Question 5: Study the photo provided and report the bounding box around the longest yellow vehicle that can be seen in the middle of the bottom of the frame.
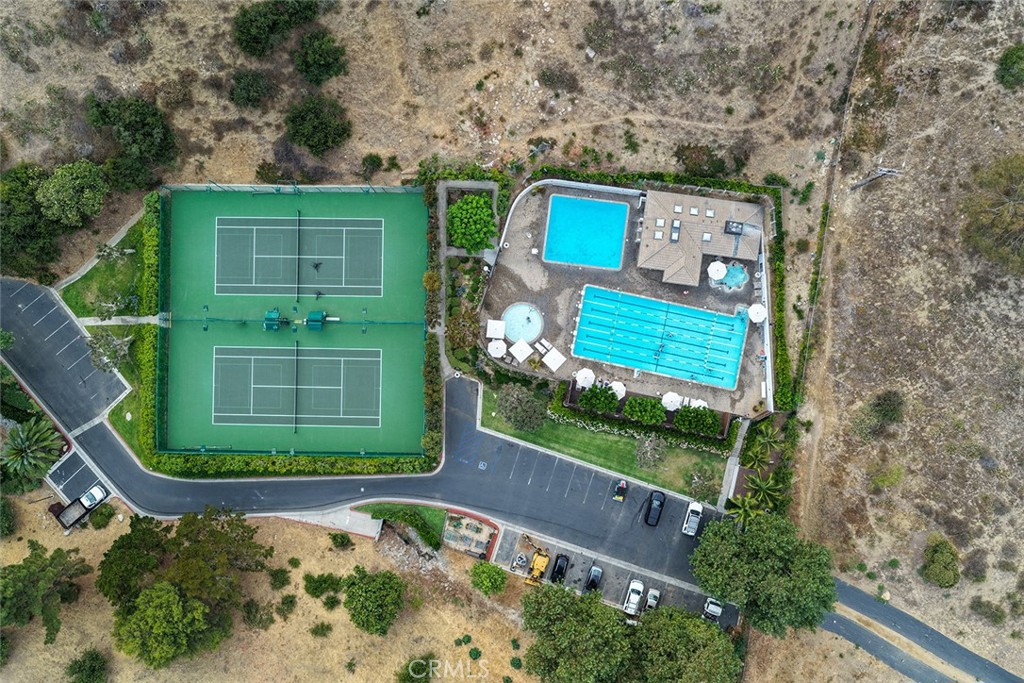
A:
[522,530,552,585]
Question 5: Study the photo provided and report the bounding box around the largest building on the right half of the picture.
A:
[637,190,764,287]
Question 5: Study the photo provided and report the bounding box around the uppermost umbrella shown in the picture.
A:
[707,261,726,280]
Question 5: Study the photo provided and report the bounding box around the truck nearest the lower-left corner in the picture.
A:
[52,483,107,531]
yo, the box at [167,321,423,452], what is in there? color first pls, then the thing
green tennis court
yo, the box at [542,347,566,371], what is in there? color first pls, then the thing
white umbrella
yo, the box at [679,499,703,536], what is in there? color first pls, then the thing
white car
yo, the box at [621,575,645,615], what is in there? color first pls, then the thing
white car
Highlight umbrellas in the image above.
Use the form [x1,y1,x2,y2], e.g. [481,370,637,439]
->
[488,339,506,357]
[688,395,708,414]
[509,338,534,362]
[487,320,505,338]
[607,381,626,400]
[747,304,766,322]
[662,392,681,411]
[576,368,595,387]
[707,261,726,280]
[542,347,566,371]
